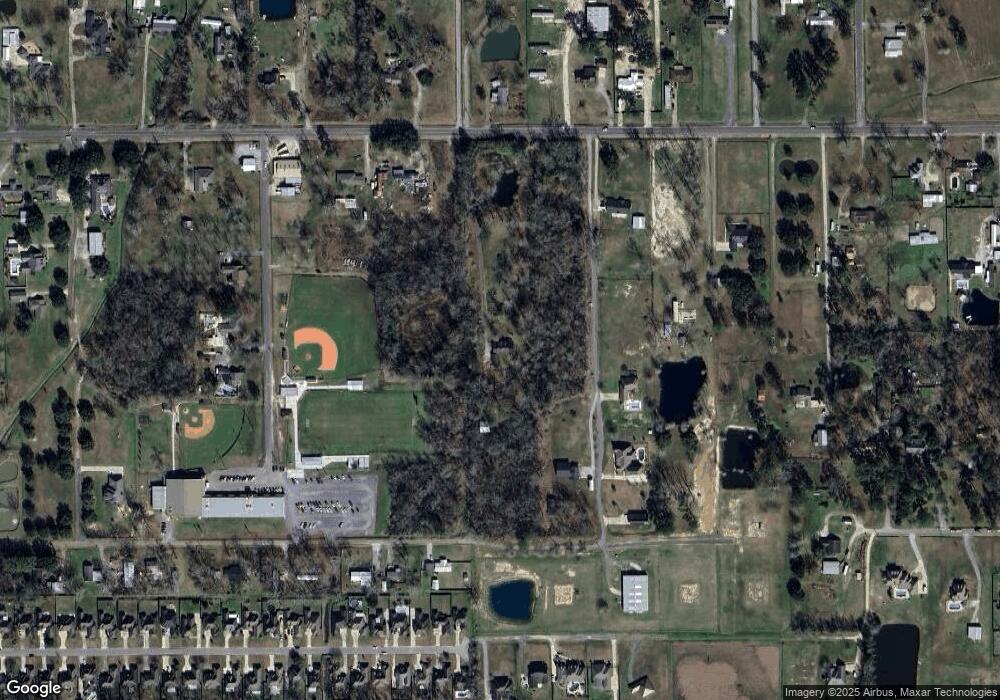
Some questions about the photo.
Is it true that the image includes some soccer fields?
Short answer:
Yes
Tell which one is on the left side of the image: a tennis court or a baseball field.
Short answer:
baseball field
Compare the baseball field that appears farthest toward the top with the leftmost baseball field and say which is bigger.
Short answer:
the baseball field that appears farthest toward the top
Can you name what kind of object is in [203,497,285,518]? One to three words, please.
building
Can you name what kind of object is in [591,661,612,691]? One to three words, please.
house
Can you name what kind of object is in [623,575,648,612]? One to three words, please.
barn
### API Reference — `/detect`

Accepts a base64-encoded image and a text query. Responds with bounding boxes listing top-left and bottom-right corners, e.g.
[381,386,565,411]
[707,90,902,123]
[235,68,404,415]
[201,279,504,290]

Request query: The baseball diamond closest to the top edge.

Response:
[286,275,381,381]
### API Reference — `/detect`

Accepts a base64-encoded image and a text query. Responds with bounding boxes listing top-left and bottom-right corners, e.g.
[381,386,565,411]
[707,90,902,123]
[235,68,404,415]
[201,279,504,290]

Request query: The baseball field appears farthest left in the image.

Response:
[181,404,246,468]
